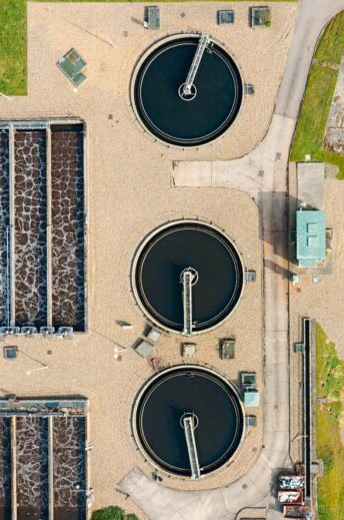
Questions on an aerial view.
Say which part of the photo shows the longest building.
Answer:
right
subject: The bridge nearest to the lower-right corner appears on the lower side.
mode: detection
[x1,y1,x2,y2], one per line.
[183,417,199,481]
